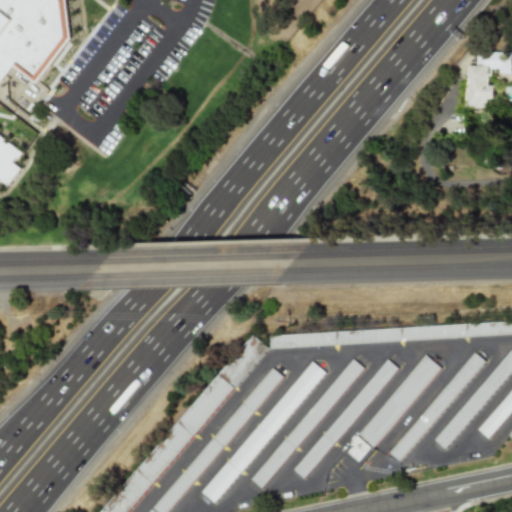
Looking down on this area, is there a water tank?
No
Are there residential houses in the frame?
Yes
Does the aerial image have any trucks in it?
Yes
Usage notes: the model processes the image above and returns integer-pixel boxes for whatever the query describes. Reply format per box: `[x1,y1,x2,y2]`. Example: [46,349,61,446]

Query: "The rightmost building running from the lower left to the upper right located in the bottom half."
[479,393,512,440]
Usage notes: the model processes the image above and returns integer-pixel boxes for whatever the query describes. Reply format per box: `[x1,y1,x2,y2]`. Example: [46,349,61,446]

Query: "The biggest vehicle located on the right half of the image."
[320,40,350,78]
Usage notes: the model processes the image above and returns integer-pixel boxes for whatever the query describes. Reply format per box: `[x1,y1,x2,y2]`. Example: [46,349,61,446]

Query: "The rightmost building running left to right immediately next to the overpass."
[271,322,512,350]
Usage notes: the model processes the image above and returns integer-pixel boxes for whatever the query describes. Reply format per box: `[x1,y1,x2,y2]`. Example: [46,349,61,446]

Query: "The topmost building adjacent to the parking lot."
[0,0,70,86]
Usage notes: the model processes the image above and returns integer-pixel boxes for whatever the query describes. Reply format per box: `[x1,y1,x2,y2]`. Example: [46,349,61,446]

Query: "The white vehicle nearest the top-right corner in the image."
[434,10,448,26]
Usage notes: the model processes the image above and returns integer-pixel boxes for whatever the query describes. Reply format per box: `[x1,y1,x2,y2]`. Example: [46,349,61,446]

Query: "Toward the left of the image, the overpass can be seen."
[80,238,312,290]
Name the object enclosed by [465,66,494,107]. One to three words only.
house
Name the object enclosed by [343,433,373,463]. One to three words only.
building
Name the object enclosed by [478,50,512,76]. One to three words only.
house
